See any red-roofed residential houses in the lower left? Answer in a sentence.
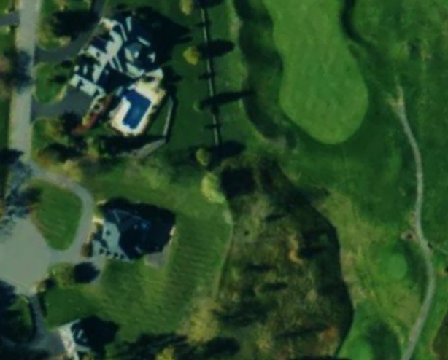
No, there's no red-roofed residential house to be seen in the lower left.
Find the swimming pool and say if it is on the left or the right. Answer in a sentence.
The swimming pool appears in the left half of the scene.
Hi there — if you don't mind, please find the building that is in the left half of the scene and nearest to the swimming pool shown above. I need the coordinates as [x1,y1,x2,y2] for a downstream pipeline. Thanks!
[70,18,153,97]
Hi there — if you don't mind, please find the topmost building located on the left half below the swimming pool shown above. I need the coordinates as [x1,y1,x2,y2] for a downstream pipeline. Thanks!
[92,207,160,262]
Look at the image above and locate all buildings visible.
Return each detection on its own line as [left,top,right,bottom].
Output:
[60,322,93,360]
[70,18,153,97]
[92,207,160,262]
